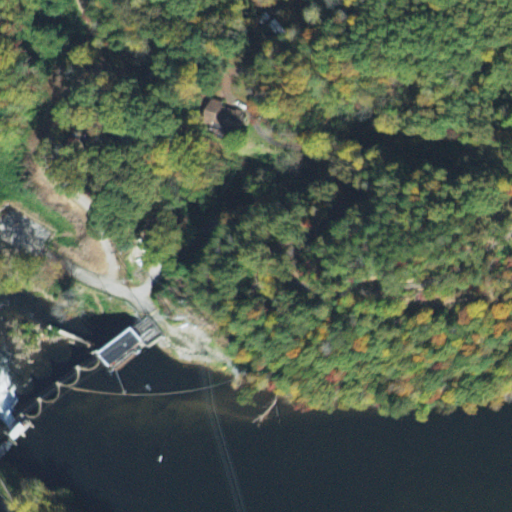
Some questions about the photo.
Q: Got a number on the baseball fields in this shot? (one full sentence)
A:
No baseball fields are visible.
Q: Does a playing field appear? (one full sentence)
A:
No, no playing field can be seen from above.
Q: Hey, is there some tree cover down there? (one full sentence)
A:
Yes, there is tree cover in the image.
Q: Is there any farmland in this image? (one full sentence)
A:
No, the scene doesn't show any farmland.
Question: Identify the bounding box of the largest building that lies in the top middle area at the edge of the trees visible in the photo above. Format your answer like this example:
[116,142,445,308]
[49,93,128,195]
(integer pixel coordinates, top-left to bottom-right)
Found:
[204,99,242,134]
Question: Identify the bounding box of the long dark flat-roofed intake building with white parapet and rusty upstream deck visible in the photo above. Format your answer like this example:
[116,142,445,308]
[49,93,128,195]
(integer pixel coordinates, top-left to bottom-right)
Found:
[97,326,145,370]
